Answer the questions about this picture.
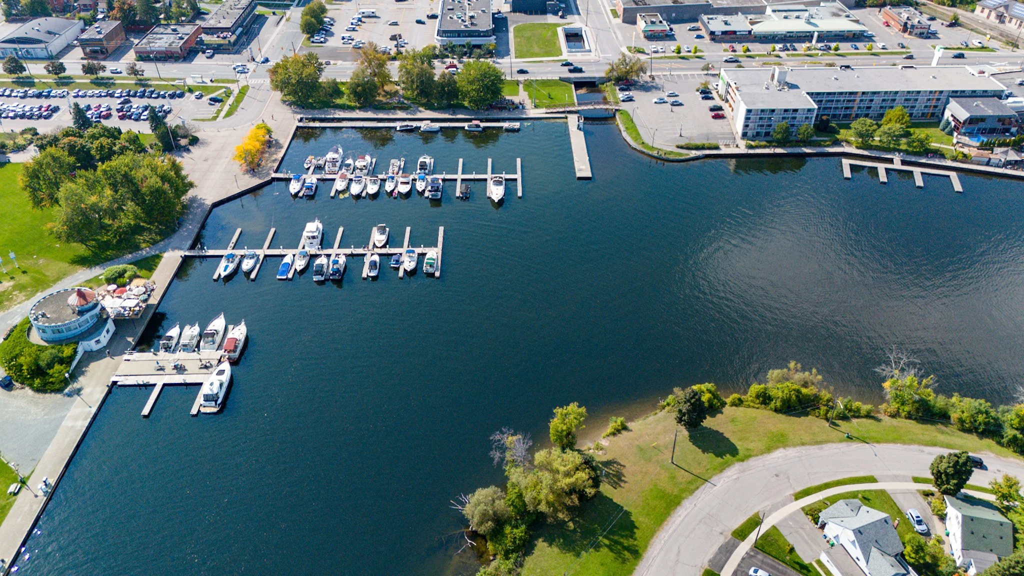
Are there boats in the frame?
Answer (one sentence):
Yes, the picture does show a boat.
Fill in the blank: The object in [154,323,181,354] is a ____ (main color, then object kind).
white boat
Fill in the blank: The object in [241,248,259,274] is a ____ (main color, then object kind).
white boat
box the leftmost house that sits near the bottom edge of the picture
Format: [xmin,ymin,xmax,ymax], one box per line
[813,496,912,576]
